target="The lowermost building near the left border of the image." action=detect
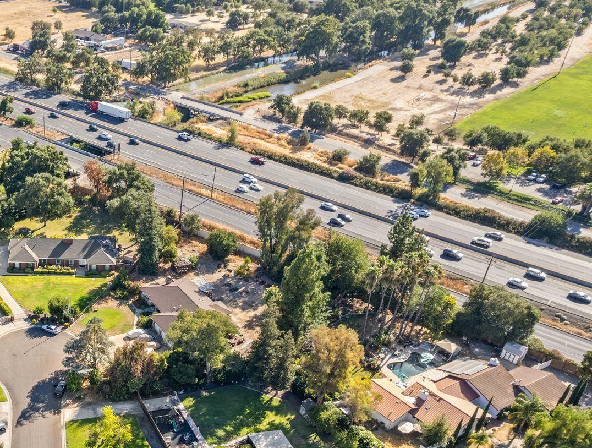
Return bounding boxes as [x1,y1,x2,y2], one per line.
[9,234,117,274]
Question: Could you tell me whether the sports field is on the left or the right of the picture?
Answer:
right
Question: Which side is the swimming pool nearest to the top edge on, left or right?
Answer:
right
